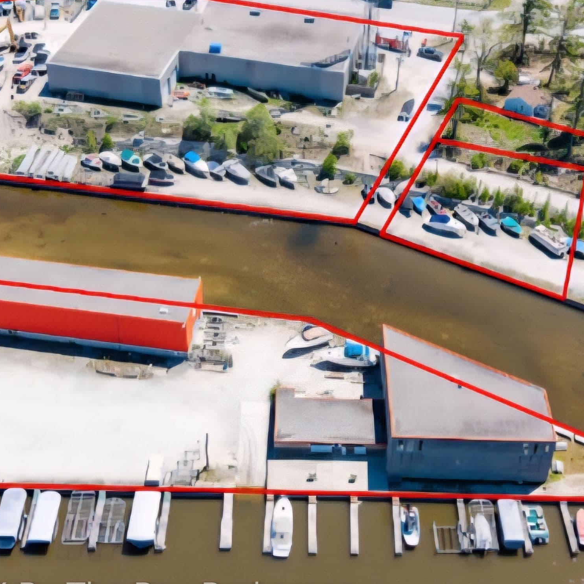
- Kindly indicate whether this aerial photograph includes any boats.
Yes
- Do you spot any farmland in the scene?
No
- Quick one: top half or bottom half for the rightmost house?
top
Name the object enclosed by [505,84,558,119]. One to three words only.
house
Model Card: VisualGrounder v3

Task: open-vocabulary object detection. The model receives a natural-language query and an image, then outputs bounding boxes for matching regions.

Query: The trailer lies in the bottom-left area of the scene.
[142,445,163,486]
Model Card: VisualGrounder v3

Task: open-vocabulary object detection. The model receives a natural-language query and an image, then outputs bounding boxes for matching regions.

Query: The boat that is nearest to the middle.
[285,325,340,346]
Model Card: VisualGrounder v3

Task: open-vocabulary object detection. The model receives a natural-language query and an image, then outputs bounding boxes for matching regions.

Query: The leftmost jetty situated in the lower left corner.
[18,493,39,550]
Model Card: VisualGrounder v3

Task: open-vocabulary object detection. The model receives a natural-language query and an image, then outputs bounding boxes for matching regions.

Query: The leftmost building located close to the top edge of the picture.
[46,0,365,107]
